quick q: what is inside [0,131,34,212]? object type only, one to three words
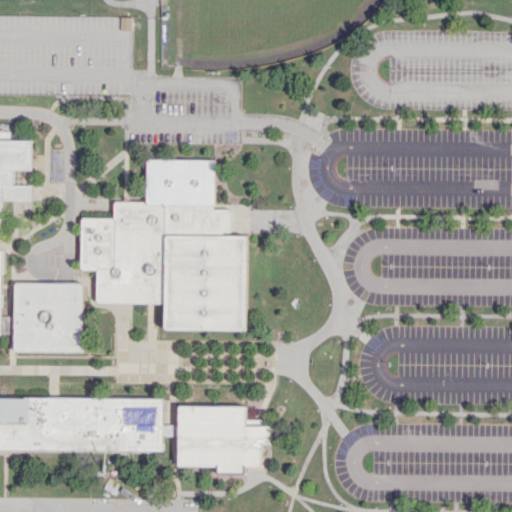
building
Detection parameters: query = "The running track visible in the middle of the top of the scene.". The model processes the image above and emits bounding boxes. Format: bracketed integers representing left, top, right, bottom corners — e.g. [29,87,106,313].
[160,0,380,70]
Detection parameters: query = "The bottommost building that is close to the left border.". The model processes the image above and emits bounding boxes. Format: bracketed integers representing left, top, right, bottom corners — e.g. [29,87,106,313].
[0,397,165,453]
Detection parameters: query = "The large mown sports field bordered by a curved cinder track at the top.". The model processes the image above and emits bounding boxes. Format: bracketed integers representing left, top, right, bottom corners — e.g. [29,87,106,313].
[160,0,380,70]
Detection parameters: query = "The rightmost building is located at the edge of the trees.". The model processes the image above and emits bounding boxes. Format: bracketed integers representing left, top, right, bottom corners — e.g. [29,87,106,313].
[177,404,271,474]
